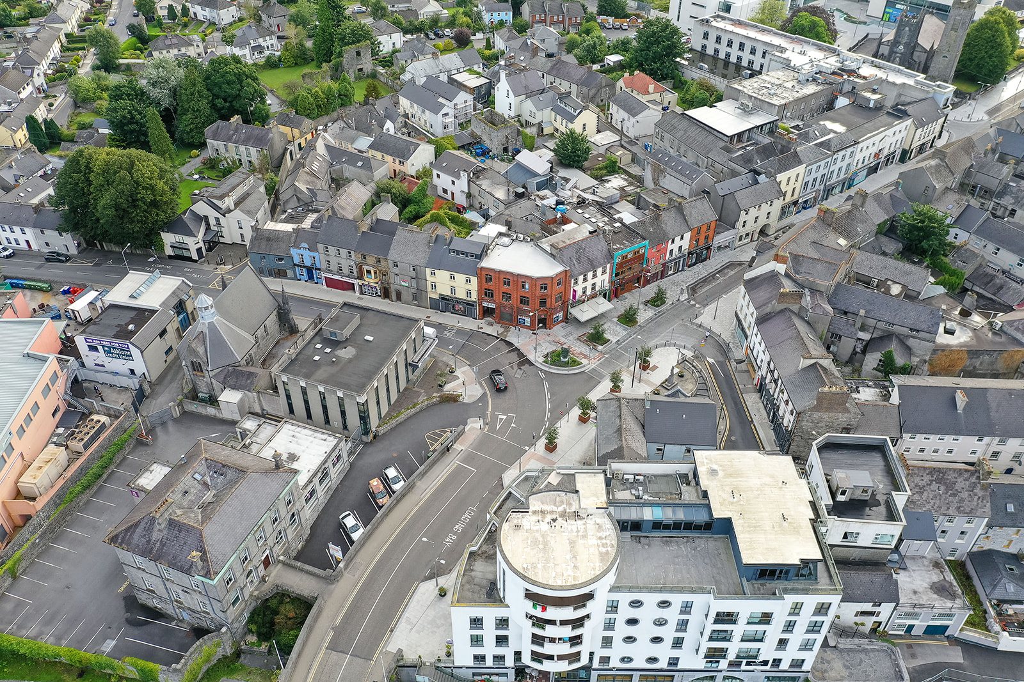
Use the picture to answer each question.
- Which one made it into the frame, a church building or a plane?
church building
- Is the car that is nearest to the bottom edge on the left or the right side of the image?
left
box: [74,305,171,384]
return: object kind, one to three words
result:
building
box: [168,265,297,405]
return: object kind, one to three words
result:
church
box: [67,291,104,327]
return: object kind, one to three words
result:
trailer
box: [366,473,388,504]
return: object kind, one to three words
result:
car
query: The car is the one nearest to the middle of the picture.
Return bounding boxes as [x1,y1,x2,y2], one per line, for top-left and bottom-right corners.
[489,366,509,389]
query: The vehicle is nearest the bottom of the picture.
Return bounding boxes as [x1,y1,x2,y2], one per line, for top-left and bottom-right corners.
[336,507,362,538]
